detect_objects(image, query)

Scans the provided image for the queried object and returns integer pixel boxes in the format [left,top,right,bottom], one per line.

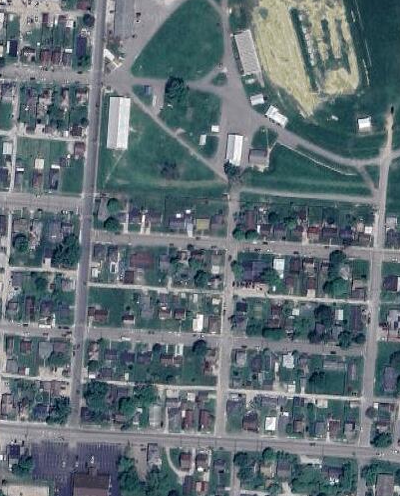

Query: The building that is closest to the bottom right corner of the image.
[376,473,397,496]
